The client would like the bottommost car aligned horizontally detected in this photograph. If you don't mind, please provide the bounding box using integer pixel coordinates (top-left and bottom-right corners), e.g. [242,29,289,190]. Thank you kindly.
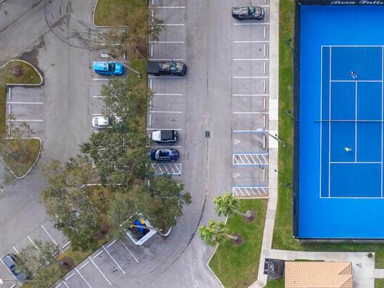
[151,147,182,162]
